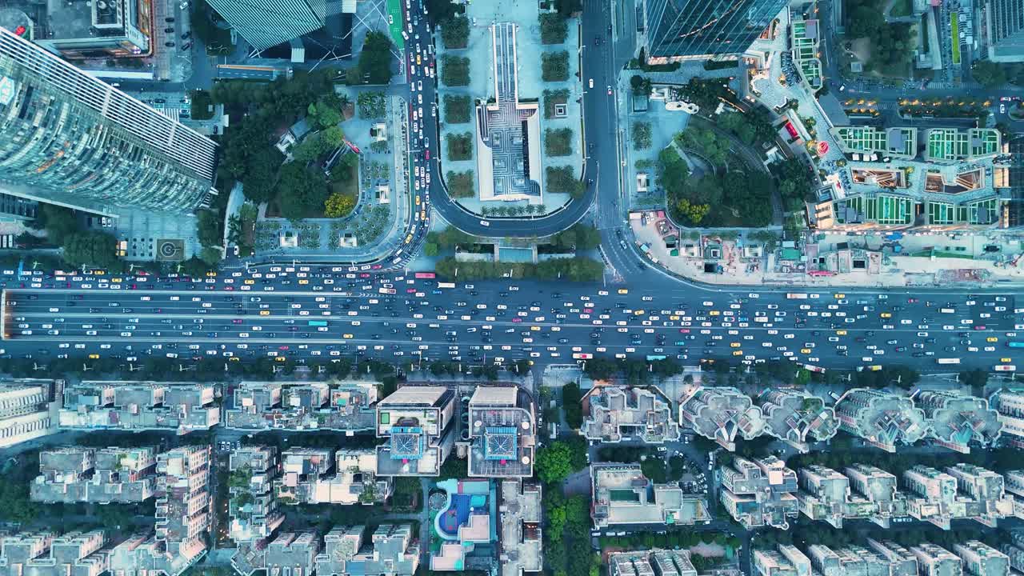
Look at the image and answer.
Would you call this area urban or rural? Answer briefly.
urban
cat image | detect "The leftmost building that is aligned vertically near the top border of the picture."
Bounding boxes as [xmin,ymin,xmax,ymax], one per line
[476,21,543,206]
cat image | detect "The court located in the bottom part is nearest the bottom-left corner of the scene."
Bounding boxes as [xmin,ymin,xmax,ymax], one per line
[439,494,489,535]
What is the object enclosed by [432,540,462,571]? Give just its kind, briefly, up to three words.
building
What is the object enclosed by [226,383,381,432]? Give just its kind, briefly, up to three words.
building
